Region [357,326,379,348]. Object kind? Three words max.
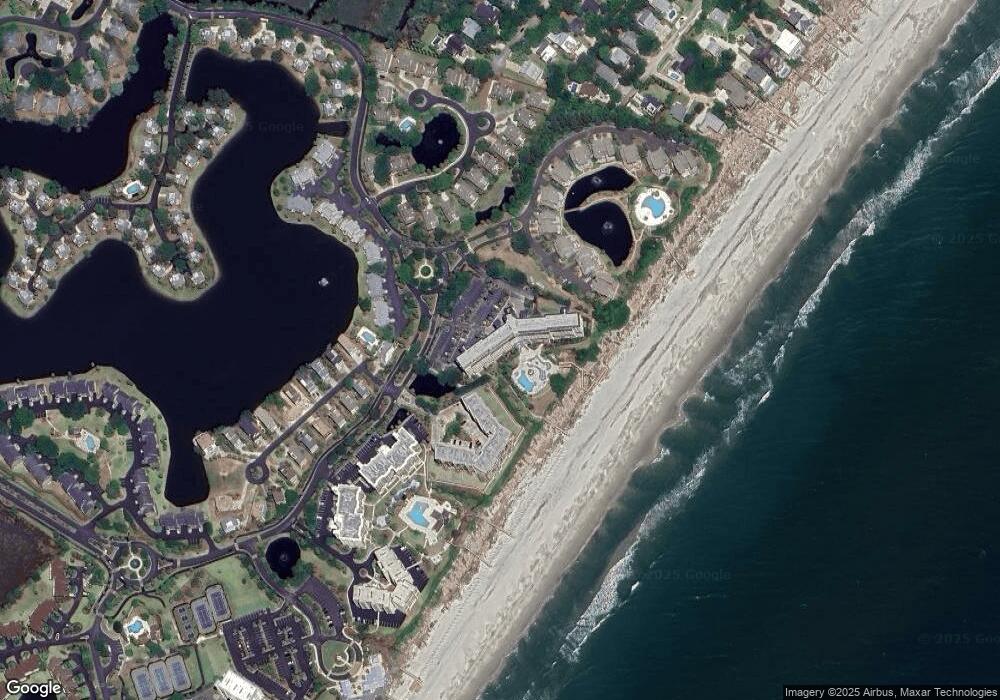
swimming pool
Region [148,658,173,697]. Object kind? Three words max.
tennis court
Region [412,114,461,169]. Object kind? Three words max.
pond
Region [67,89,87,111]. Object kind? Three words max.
house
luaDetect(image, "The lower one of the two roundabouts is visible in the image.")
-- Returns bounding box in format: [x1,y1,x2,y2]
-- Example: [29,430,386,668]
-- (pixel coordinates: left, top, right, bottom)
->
[111,539,159,587]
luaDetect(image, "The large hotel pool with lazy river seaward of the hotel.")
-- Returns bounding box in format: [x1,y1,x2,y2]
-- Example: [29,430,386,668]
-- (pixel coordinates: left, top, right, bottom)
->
[510,342,562,397]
